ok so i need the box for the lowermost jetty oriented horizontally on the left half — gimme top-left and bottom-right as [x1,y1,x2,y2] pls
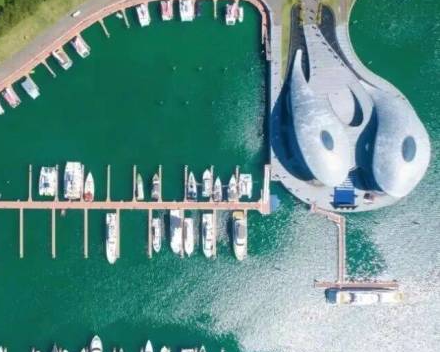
[0,163,270,259]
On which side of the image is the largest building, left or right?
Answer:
right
